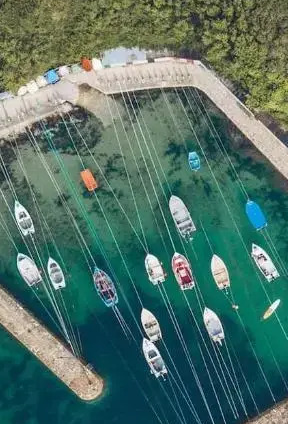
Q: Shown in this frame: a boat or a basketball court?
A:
boat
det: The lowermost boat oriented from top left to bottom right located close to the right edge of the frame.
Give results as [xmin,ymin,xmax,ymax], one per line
[252,243,280,285]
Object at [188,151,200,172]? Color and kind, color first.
blue boat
